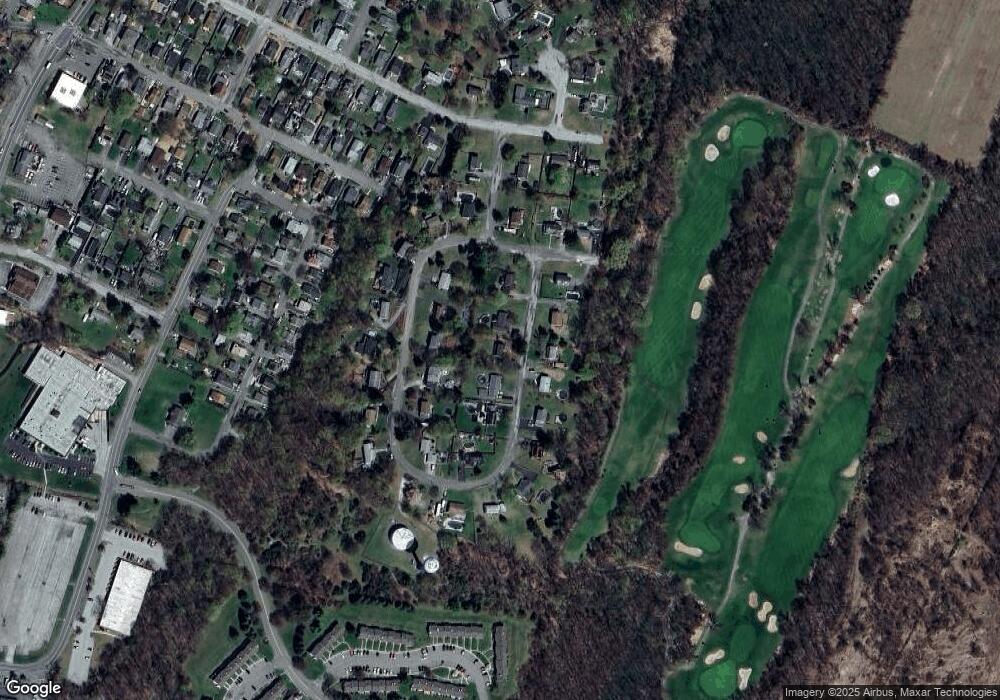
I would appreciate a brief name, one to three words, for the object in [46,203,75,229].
building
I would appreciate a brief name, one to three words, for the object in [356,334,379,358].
house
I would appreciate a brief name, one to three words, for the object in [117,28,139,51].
house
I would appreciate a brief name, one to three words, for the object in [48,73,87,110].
building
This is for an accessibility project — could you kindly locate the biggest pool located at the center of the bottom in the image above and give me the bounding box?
[445,516,464,531]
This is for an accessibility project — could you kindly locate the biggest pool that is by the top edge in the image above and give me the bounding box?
[534,11,553,26]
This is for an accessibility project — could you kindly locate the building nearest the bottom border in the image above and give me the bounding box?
[98,560,152,637]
